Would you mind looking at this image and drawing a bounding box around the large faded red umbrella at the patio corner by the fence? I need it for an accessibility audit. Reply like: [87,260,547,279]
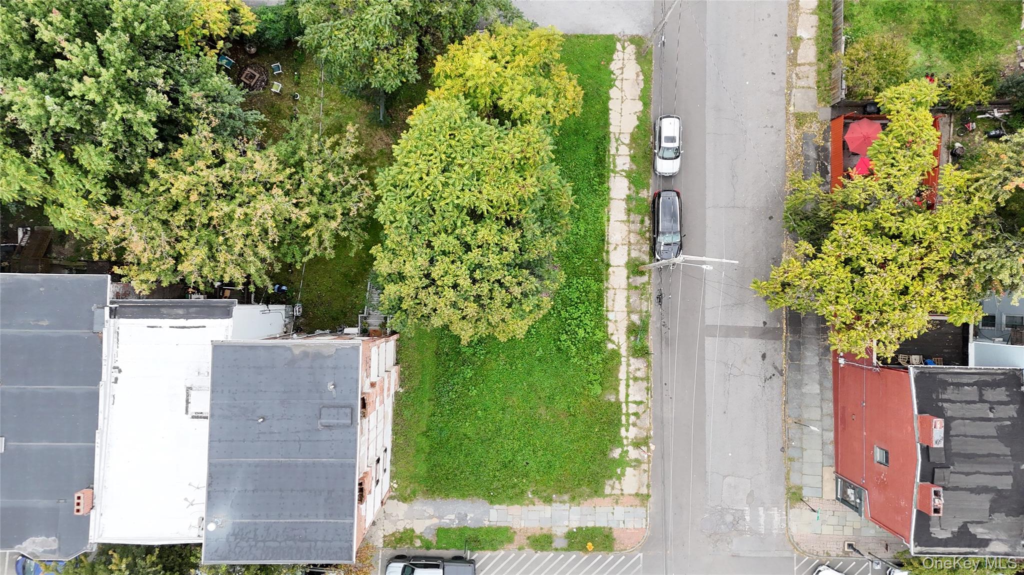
[842,119,879,156]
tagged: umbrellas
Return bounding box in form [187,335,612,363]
[842,119,879,156]
[845,155,874,181]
